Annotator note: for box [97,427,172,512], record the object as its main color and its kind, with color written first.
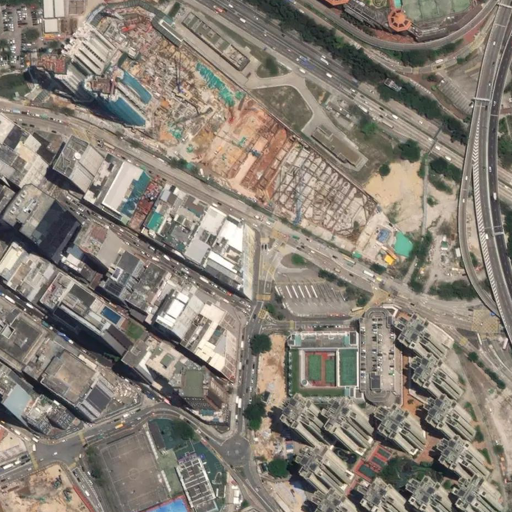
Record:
gray soccer field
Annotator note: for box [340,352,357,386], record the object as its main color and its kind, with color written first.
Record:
green sports court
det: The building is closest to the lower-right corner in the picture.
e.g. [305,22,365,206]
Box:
[450,472,507,512]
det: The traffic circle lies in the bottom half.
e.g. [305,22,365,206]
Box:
[222,434,250,465]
